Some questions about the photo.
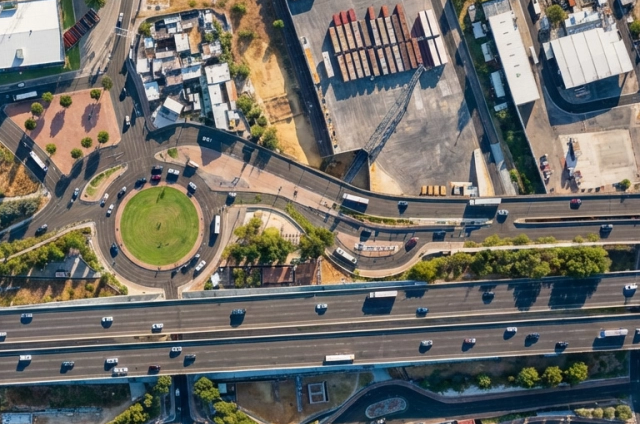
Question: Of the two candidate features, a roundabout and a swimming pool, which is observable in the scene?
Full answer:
I can see a roundabout in this picture.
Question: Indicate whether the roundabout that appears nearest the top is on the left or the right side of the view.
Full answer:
The roundabout that appears nearest the top is on the left side of the image.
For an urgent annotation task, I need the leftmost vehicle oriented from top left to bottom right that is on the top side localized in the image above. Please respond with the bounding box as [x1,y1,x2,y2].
[29,149,49,172]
